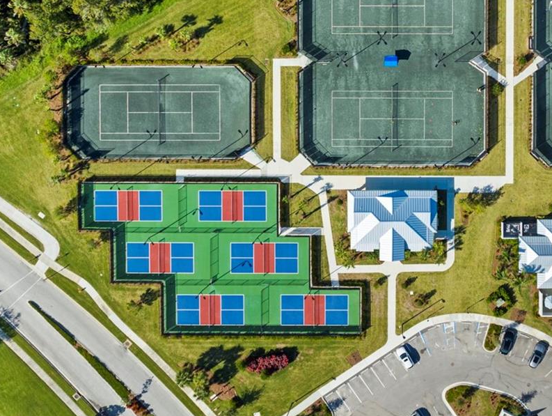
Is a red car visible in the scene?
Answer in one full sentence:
No, I find no red car anywhere in the image.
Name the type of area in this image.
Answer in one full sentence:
The area seen from above is a sports ground.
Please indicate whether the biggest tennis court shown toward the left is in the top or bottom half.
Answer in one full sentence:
The biggest tennis court shown toward the left sits in the top half of the picture.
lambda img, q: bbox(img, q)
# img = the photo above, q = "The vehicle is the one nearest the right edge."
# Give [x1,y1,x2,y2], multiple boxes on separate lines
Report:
[529,342,547,366]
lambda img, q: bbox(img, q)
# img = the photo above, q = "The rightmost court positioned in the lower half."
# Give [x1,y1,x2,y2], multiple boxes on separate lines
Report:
[265,283,362,331]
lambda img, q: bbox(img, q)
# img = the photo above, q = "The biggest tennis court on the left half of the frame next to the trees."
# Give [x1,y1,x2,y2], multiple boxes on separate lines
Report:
[67,66,249,158]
